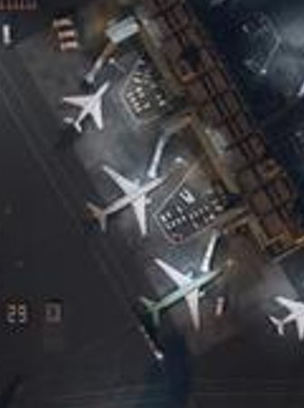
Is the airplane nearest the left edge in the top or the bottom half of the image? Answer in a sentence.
The airplane nearest the left edge is in the top half of the image.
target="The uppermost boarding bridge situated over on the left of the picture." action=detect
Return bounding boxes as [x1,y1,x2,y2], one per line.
[83,44,116,86]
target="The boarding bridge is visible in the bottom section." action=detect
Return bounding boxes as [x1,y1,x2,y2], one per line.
[197,222,228,273]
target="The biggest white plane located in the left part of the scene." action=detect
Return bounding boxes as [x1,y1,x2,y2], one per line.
[77,161,163,233]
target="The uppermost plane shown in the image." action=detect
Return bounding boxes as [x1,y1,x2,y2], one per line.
[62,80,109,135]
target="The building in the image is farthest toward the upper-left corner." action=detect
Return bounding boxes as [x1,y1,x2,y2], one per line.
[105,16,141,44]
